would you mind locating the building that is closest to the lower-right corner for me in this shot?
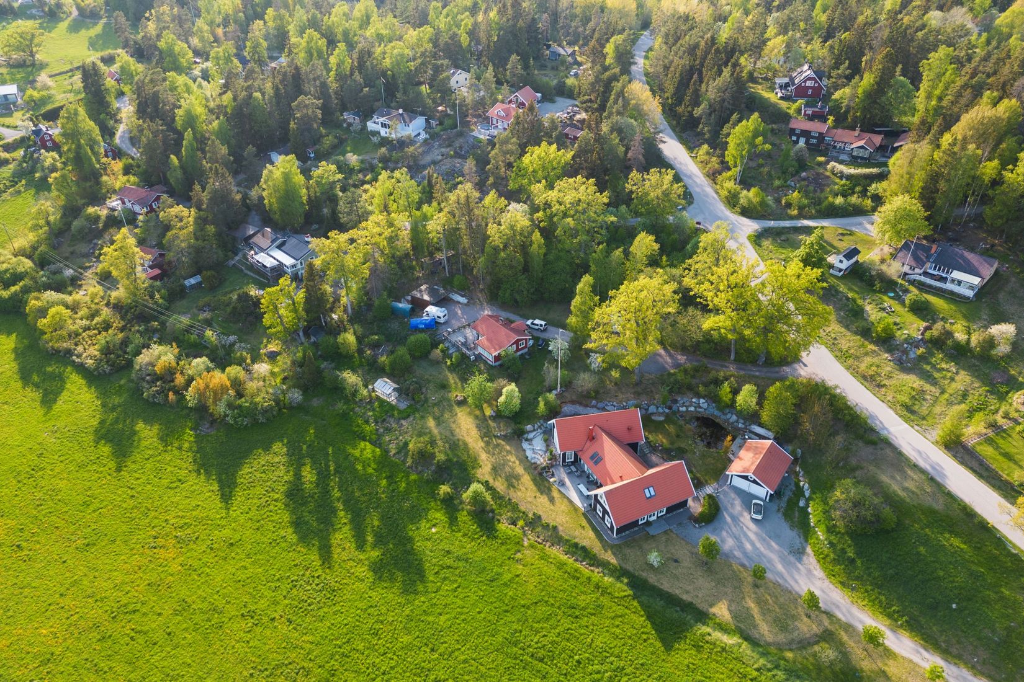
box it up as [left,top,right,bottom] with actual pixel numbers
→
[724,440,796,506]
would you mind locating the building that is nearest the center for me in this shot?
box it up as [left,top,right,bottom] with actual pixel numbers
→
[442,314,541,370]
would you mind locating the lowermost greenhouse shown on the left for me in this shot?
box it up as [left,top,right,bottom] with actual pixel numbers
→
[377,379,407,403]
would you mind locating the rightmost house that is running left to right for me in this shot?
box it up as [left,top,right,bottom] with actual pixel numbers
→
[897,239,998,297]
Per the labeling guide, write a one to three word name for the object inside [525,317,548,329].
vehicle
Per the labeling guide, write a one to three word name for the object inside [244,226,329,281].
building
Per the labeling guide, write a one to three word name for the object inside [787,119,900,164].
house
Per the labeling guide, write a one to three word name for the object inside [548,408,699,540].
house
